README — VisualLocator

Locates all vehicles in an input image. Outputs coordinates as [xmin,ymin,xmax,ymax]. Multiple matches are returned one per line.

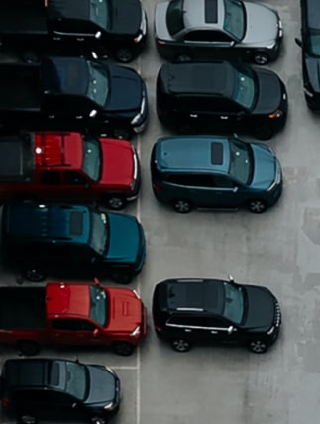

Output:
[0,127,140,208]
[155,62,289,139]
[154,0,284,65]
[0,55,147,136]
[0,0,146,63]
[0,202,145,283]
[0,354,121,424]
[150,134,283,214]
[0,276,146,355]
[152,276,282,353]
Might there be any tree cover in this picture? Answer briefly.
No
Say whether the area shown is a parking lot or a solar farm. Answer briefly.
parking lot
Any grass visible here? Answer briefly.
No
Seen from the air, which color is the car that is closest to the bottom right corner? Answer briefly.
black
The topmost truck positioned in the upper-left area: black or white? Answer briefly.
black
